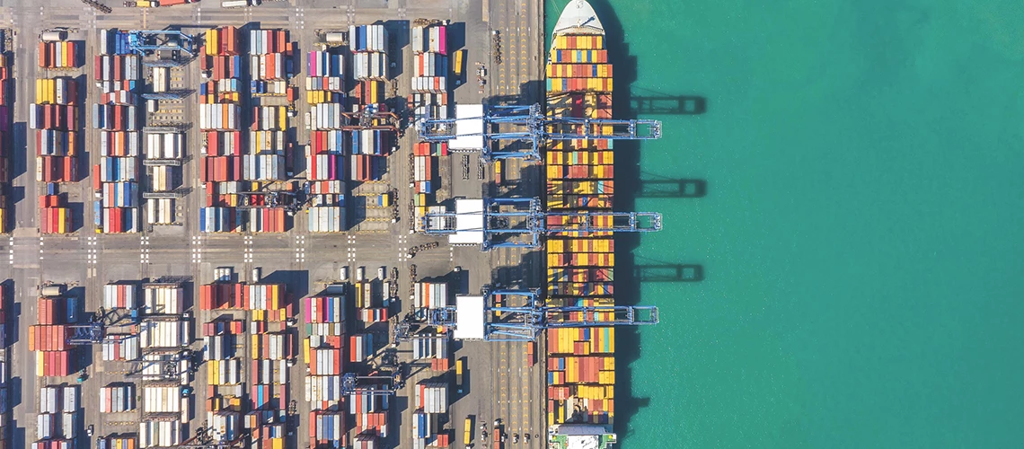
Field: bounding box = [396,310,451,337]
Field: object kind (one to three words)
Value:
container crane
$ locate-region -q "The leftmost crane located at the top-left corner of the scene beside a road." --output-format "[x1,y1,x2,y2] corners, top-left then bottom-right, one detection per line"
[125,29,192,58]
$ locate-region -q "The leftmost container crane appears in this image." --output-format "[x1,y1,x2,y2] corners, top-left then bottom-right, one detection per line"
[66,319,140,347]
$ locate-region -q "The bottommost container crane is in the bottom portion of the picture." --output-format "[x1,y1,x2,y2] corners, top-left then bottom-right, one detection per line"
[173,424,243,449]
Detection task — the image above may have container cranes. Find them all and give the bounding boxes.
[236,188,298,212]
[123,353,190,381]
[340,369,400,397]
[419,100,661,167]
[396,310,451,337]
[341,109,399,136]
[66,319,140,347]
[419,193,661,253]
[419,277,661,340]
[173,424,243,449]
[125,29,192,58]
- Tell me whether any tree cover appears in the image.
No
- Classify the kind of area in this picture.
port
